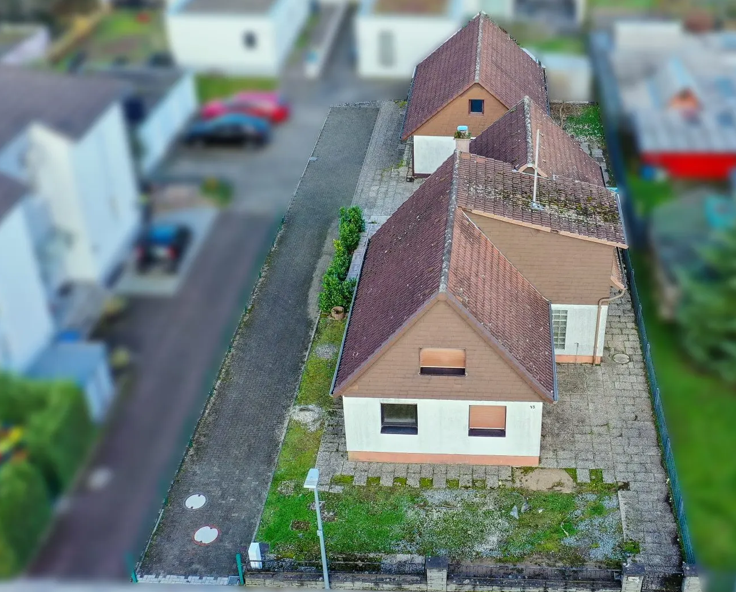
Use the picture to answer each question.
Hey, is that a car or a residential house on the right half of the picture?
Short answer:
residential house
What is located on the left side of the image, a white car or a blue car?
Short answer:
blue car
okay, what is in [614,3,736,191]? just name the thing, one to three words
building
